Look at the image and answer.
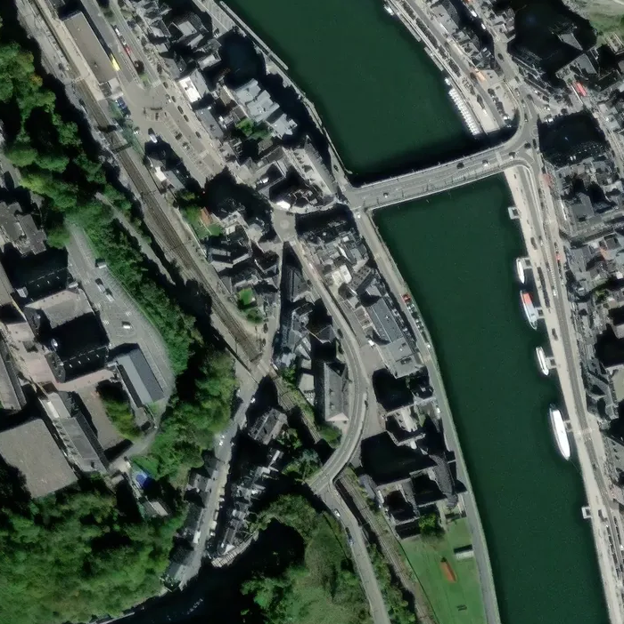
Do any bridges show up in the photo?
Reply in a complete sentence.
Yes, there's a bridge here.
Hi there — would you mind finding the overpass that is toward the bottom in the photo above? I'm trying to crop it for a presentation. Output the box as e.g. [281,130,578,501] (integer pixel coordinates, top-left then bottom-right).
[309,368,374,491]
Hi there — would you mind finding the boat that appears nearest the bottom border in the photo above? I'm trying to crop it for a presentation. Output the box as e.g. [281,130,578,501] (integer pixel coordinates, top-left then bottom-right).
[548,405,569,459]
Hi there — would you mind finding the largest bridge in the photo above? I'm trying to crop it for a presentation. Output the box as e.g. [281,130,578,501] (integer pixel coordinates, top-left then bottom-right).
[341,134,532,216]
